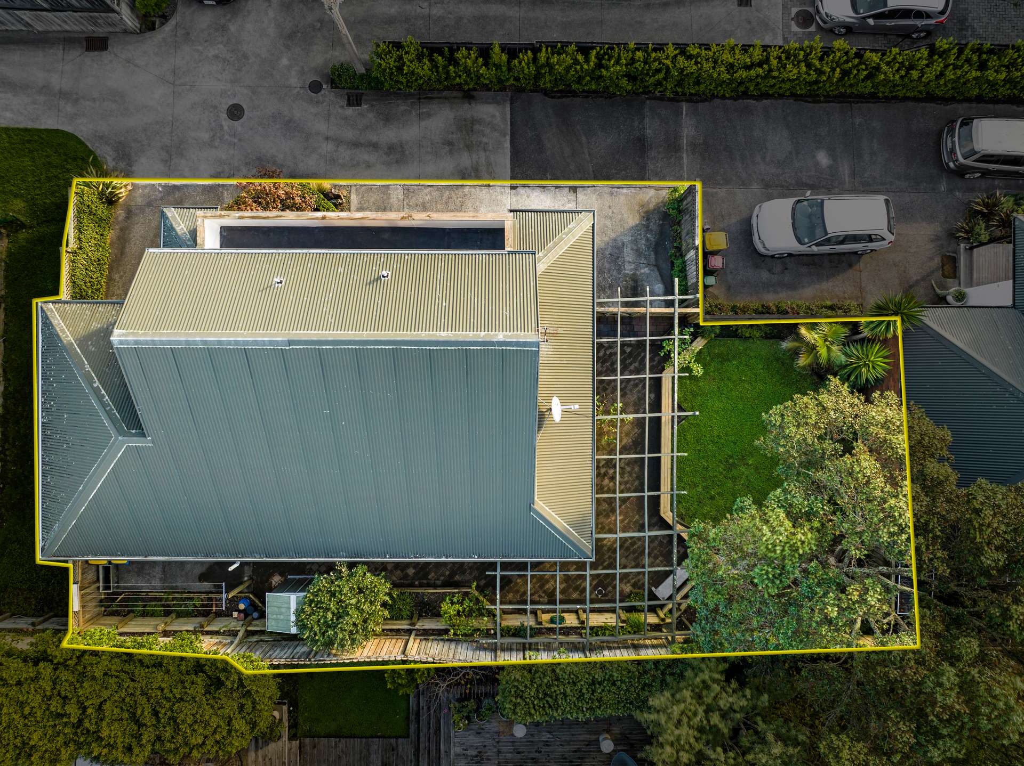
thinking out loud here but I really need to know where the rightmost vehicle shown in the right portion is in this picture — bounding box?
[940,112,1024,180]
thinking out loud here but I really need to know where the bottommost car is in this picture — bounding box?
[749,187,898,258]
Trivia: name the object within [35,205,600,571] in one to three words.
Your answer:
house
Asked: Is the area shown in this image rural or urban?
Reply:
urban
